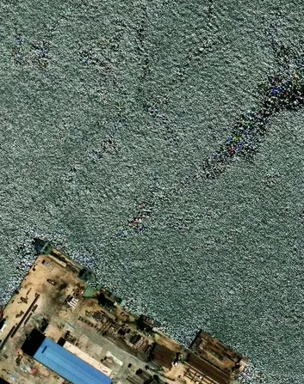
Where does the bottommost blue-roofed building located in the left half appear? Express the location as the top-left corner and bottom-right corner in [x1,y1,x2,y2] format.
[33,338,112,384]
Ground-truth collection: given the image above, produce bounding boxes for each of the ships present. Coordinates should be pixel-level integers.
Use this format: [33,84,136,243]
[190,331,246,379]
